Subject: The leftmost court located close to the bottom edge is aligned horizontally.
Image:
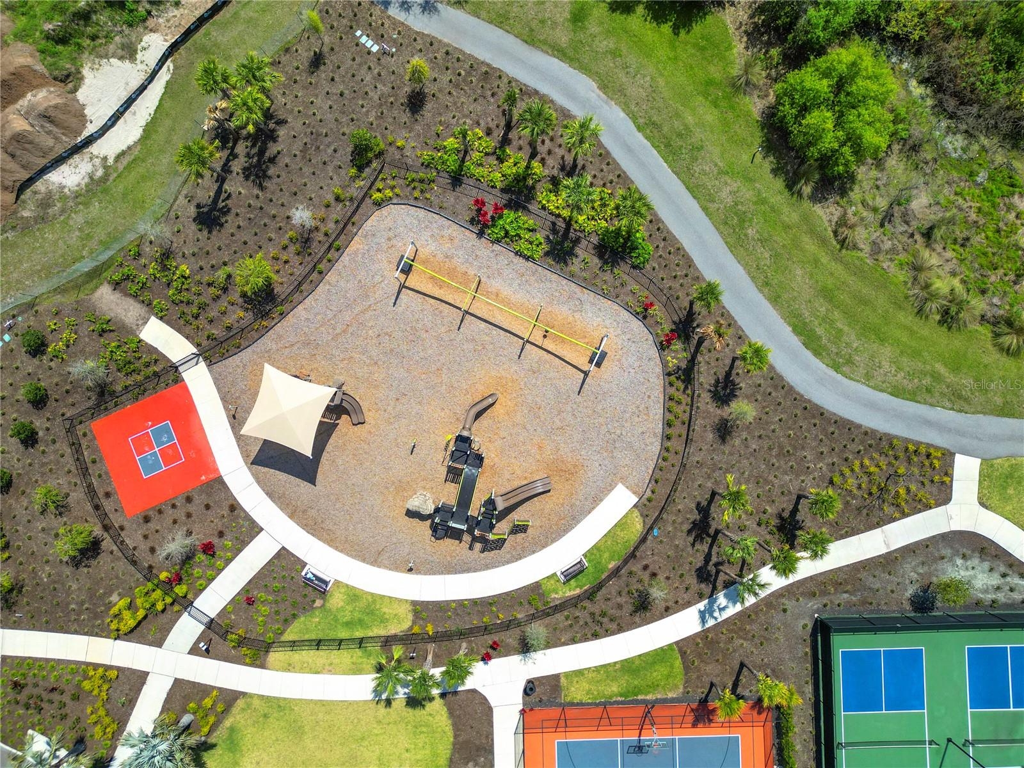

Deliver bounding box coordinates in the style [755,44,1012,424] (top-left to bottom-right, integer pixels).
[524,704,770,768]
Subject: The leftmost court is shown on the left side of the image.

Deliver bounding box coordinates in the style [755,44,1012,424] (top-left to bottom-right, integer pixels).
[91,382,221,518]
